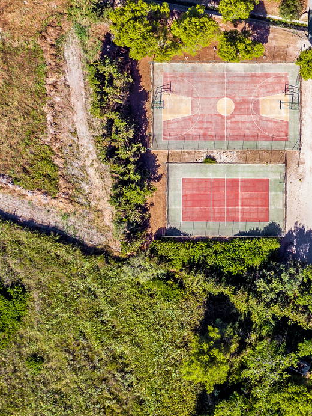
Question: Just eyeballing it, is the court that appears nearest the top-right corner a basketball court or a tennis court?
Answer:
basketball court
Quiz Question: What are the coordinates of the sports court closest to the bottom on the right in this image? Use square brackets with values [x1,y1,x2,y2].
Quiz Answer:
[168,163,285,237]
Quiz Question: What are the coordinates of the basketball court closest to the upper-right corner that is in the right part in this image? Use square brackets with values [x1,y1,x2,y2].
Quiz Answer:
[153,63,298,148]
